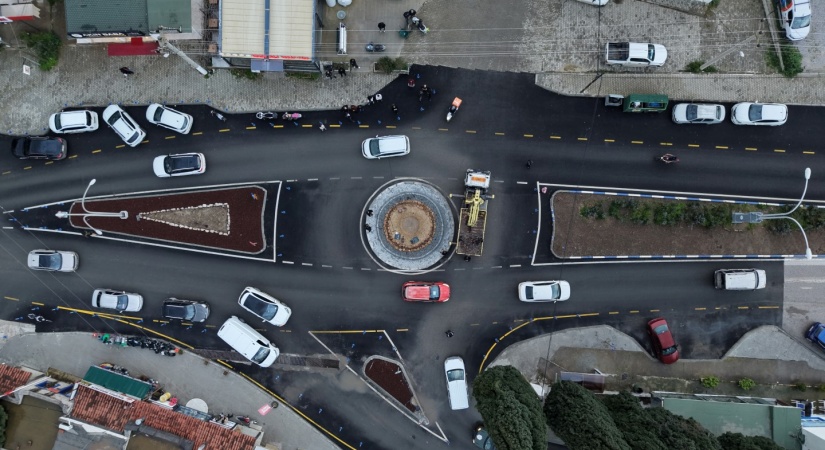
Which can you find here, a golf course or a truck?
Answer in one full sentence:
Looking from above, you can make out a truck.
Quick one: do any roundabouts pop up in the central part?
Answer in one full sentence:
Yes, a roundabout shows up in the central part.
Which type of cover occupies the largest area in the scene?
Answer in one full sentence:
The bulk of the photo consists of paved ground.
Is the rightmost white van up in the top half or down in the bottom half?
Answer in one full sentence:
You can find the rightmost white van in the top half.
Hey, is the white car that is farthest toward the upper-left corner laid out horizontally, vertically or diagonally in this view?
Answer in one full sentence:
In this picture, the white car that is farthest toward the upper-left corner is oriented horizontally.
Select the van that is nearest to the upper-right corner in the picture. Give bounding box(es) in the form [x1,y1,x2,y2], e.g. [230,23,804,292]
[780,0,815,43]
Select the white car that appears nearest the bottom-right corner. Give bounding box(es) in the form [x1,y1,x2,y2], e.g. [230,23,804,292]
[713,268,765,291]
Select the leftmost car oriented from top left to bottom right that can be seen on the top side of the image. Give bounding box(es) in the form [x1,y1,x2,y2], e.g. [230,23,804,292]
[104,103,149,149]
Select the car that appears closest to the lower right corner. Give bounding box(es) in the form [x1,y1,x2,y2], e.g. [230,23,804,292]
[805,319,825,350]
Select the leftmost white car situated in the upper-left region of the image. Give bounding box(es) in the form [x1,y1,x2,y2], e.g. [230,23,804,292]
[50,109,102,133]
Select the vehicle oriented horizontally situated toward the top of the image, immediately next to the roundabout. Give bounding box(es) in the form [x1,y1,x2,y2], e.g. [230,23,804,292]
[361,135,411,159]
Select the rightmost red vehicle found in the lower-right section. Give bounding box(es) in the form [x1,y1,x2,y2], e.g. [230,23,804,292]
[646,315,679,365]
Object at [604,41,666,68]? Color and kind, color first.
white truck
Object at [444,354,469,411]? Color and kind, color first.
white car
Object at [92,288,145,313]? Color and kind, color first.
white car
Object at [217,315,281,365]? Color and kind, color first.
white van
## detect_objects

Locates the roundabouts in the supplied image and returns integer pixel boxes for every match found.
[361,177,458,275]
